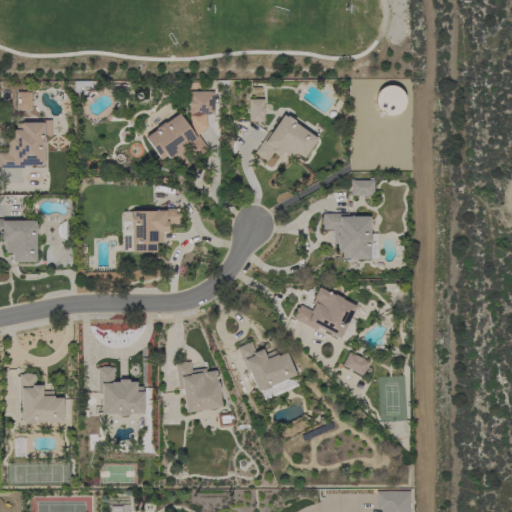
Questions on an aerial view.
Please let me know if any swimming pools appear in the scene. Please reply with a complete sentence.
Yes, there's a swimming pool down there.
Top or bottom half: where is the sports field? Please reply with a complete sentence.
The sports field sits in the top half of the picture.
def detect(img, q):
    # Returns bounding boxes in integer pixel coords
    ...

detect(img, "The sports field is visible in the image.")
[0,0,384,58]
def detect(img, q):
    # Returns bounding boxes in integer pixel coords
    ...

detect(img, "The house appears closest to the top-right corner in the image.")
[353,179,376,197]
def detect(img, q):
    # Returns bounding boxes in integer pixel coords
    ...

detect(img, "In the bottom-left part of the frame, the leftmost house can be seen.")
[20,374,65,424]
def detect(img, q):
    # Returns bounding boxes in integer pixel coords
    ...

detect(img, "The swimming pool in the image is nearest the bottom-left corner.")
[34,436,57,452]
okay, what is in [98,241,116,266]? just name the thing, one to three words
swimming pool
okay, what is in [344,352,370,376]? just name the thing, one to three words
building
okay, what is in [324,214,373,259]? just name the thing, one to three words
house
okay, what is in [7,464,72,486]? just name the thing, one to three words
tennis court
